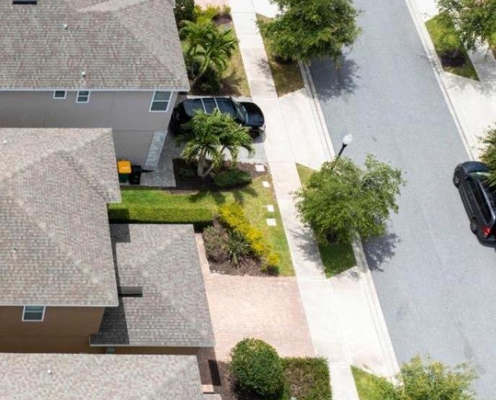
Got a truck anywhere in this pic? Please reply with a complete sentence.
No, this view has no truck in it.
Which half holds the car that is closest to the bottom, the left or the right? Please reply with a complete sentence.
You can find the car that is closest to the bottom on the right side of the picture.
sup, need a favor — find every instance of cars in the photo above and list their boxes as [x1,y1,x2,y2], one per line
[451,162,496,240]
[168,103,258,146]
